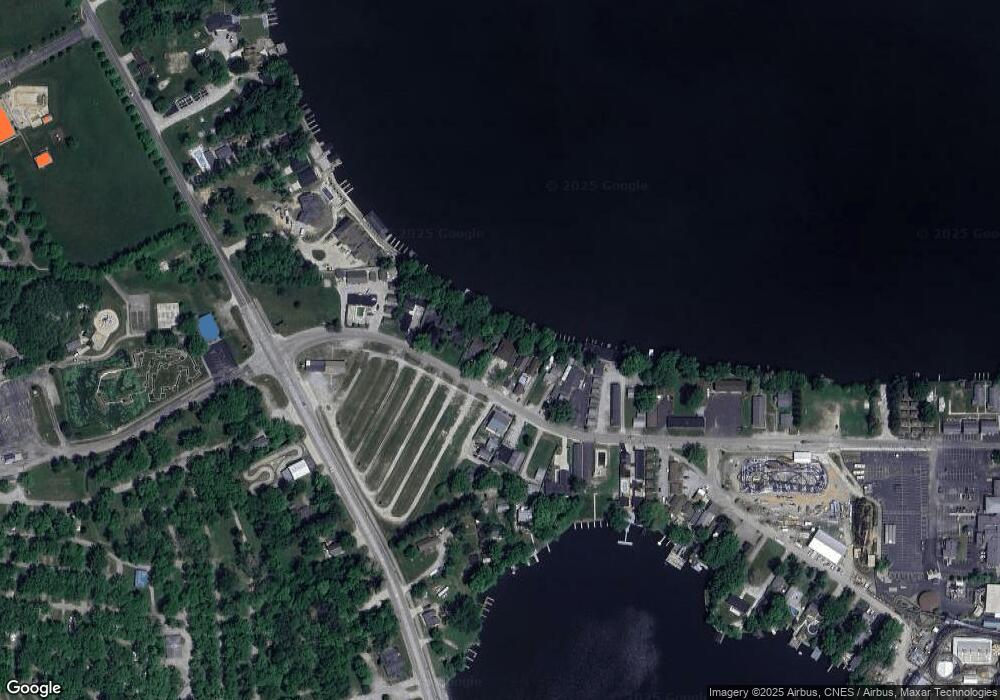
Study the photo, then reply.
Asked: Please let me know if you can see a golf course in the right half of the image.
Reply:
No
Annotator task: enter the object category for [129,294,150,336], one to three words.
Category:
tennis court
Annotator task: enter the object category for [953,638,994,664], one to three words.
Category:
building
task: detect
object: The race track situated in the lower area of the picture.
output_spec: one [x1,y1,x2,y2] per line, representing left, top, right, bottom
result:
[243,444,316,495]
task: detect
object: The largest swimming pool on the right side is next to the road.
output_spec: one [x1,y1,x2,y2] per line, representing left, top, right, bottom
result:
[596,448,608,474]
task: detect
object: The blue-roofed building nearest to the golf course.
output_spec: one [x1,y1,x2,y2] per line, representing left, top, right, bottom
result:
[197,314,220,341]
